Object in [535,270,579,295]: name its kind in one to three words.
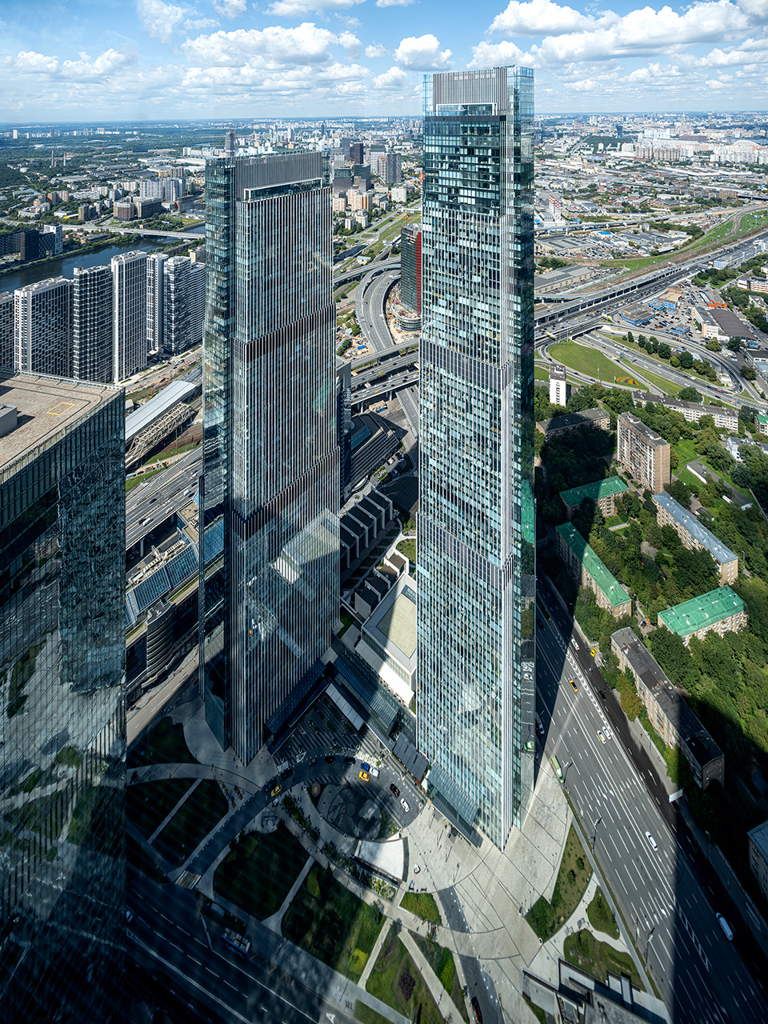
building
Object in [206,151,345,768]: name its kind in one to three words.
building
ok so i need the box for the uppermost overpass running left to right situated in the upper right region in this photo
[535,203,768,259]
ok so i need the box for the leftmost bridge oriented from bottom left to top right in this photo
[124,401,209,473]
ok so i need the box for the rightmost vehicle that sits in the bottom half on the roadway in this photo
[715,910,732,938]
